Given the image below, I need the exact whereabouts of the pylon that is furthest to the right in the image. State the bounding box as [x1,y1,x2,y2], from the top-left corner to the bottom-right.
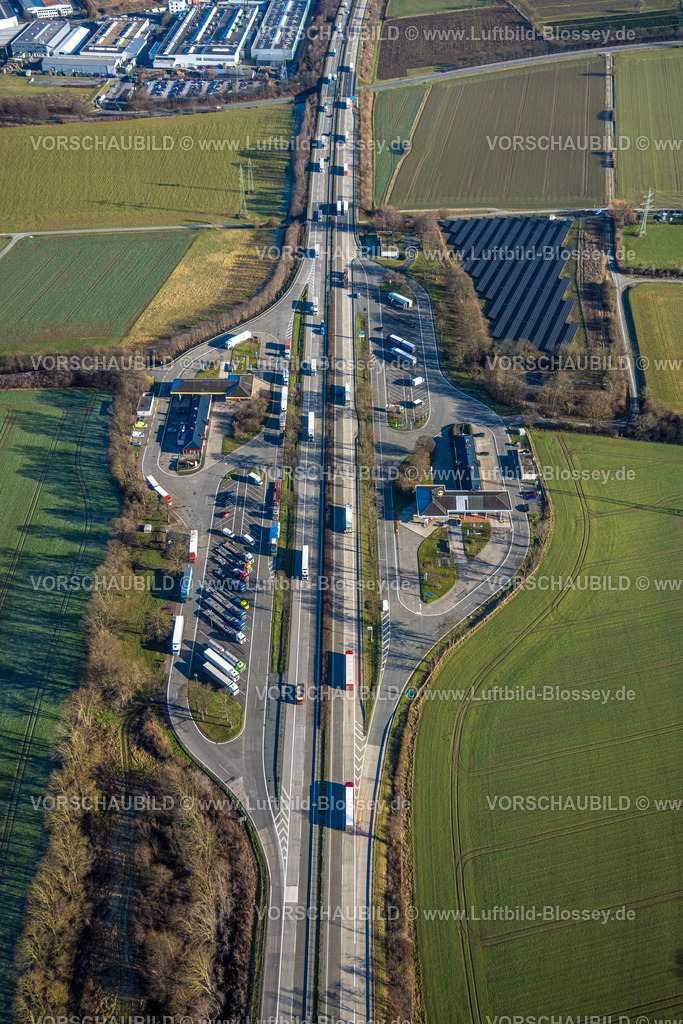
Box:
[635,187,650,237]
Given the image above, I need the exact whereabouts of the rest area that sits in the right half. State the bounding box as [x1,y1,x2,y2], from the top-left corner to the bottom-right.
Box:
[350,225,545,1024]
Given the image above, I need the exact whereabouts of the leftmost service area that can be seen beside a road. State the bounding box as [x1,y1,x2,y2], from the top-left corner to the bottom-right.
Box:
[132,228,314,1024]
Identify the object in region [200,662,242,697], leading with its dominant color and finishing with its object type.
white truck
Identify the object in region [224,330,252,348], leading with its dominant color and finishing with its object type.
white vehicle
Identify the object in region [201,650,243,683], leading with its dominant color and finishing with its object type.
white truck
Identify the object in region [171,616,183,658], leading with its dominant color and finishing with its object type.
white vehicle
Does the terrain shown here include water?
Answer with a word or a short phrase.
No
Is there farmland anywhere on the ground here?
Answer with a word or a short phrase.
Yes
